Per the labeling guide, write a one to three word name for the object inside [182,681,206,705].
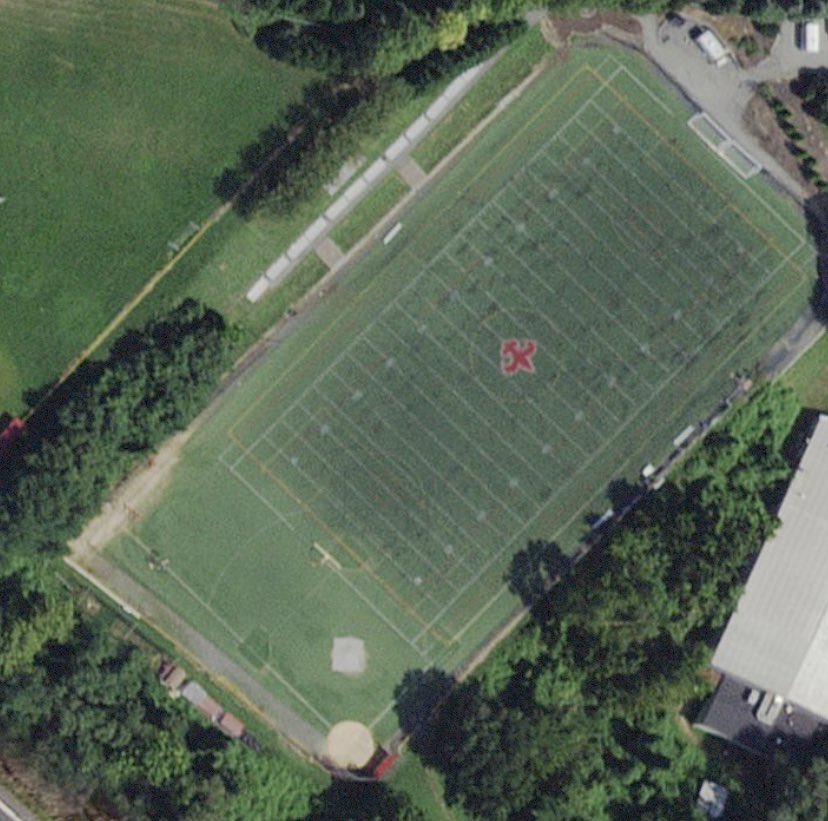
shed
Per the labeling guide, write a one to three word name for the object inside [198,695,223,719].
shed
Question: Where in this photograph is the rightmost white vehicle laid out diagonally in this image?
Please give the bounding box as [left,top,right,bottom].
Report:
[698,30,730,68]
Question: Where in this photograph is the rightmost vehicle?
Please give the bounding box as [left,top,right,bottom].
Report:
[806,22,821,53]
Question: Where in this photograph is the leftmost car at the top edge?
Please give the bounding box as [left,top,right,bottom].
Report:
[664,9,687,28]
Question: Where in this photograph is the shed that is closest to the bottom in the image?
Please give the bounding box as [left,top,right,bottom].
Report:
[697,781,729,818]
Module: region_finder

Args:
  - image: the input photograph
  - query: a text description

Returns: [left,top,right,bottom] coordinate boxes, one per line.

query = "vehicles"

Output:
[664,9,687,28]
[806,22,821,53]
[698,30,730,68]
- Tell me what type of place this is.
sports ground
